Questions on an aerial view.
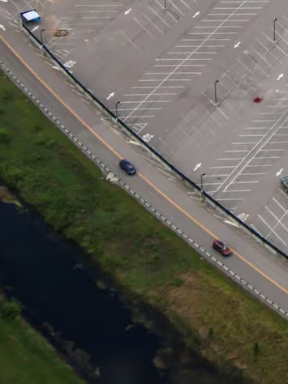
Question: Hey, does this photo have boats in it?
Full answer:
No, no boat is visible in the scene.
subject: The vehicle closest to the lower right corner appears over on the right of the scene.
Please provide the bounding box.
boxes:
[214,237,230,256]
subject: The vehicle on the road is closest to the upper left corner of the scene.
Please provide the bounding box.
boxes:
[120,159,135,175]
